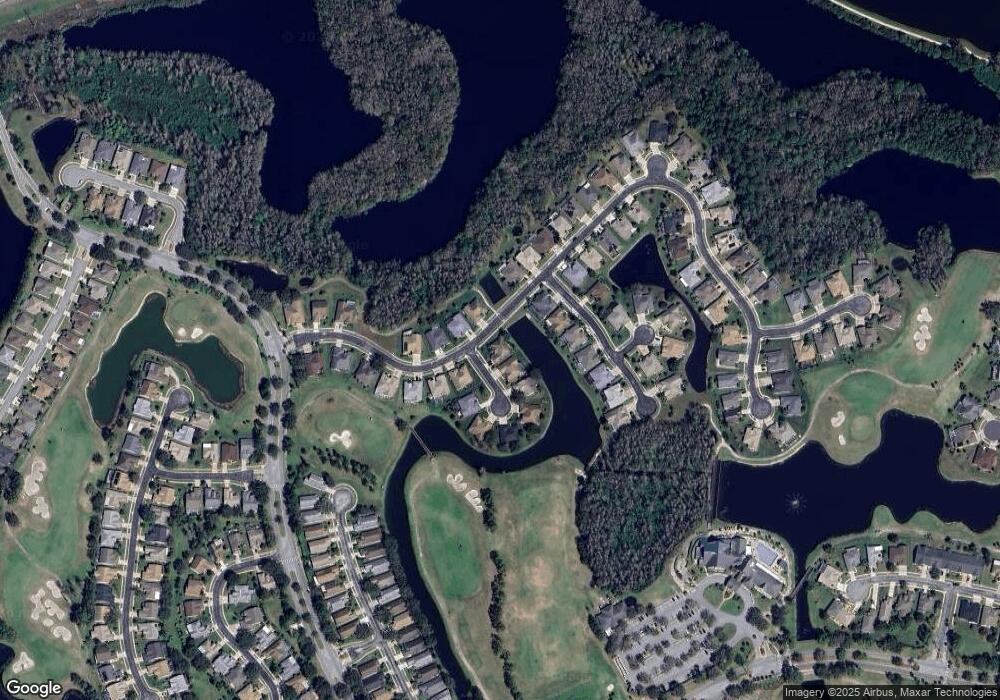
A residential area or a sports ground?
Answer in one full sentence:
It's a residential area.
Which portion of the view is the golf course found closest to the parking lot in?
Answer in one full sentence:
The golf course found closest to the parking lot is located in the bottom region of the scene.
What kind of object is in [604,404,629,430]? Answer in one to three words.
house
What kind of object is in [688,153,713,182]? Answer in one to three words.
house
